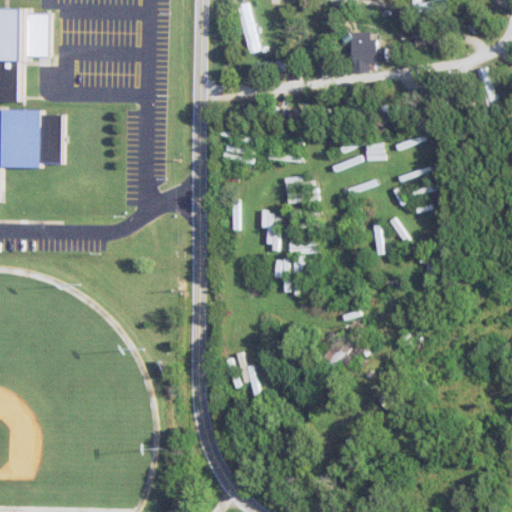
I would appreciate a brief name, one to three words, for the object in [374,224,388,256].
house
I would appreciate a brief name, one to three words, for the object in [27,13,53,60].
building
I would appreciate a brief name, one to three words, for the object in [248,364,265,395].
house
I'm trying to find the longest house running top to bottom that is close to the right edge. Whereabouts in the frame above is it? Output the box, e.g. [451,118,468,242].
[481,67,498,103]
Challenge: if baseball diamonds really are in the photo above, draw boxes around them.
[0,267,160,512]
